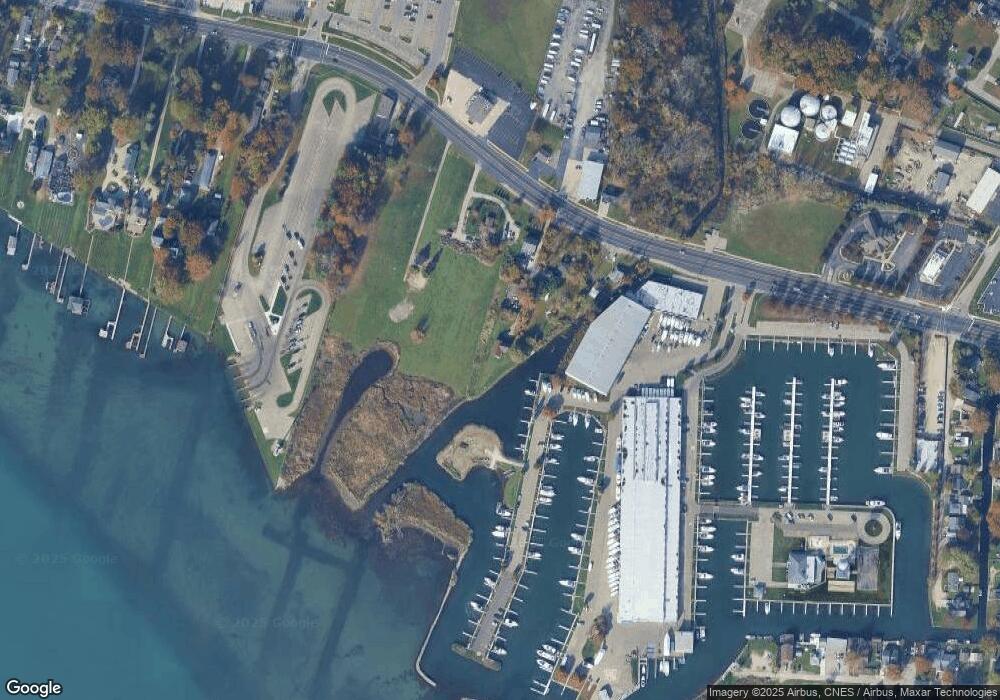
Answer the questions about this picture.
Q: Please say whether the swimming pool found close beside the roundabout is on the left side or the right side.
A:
right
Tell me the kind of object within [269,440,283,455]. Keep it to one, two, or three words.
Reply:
gazebo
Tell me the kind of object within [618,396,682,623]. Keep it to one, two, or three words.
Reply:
shed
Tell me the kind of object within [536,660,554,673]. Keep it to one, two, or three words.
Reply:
boat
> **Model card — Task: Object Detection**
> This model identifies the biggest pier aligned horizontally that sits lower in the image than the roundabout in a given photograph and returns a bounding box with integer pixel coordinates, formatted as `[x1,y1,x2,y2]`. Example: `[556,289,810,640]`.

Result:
[743,599,892,616]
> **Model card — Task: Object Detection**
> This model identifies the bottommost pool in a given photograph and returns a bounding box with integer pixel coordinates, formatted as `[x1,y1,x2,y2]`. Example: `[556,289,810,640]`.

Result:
[832,541,855,565]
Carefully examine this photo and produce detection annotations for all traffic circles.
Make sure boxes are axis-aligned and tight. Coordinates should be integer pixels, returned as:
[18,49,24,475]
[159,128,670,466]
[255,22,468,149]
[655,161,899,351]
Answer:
[862,511,891,544]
